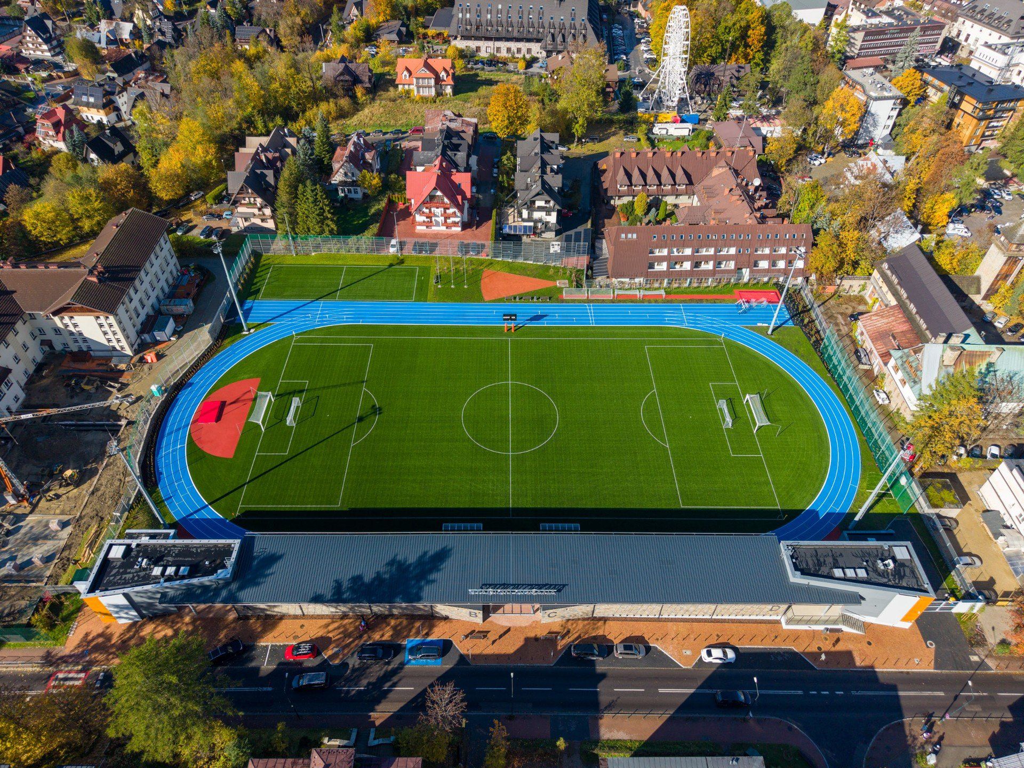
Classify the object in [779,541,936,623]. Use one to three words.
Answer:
building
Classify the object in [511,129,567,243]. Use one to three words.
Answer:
house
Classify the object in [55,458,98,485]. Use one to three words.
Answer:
work vehicle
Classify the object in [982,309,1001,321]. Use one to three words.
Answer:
vehicle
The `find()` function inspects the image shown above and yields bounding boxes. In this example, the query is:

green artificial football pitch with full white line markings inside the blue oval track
[187,324,829,534]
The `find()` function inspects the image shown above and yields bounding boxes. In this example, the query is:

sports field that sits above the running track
[248,265,431,302]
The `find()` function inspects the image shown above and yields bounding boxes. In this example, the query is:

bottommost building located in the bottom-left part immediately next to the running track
[81,539,245,622]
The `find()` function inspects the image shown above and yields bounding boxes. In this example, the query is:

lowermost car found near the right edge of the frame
[967,586,1003,602]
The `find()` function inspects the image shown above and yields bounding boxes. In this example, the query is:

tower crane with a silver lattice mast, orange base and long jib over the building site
[0,394,132,510]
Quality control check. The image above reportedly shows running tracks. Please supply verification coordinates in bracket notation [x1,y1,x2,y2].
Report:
[157,301,859,547]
